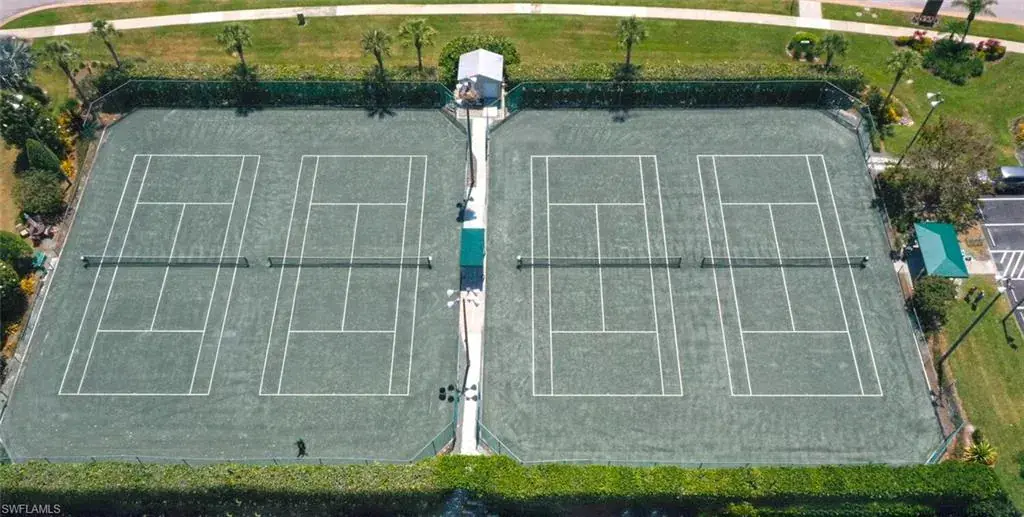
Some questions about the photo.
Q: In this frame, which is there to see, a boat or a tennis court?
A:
tennis court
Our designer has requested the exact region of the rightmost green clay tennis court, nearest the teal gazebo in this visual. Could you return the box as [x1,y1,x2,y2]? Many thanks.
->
[670,106,944,472]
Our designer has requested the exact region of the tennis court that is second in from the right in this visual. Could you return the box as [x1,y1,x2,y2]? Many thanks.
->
[483,106,717,472]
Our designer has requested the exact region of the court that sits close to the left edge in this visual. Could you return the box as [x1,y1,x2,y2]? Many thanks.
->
[0,107,290,471]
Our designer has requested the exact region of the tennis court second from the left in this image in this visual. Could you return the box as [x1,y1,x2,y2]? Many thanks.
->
[220,107,465,471]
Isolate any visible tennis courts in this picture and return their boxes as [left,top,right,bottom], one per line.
[0,107,290,471]
[483,106,717,472]
[670,106,944,472]
[220,107,465,471]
